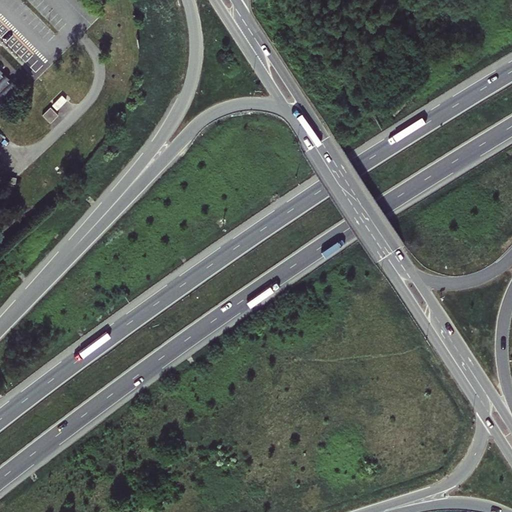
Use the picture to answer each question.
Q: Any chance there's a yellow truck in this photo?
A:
No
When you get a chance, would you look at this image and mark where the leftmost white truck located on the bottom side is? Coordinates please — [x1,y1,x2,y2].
[74,333,111,362]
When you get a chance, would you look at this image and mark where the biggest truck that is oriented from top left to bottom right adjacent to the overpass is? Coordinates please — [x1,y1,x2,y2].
[293,107,322,145]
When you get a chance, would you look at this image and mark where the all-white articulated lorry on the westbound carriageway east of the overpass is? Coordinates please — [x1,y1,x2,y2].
[388,116,427,144]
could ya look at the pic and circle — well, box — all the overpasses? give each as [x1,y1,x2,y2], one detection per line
[306,136,404,262]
